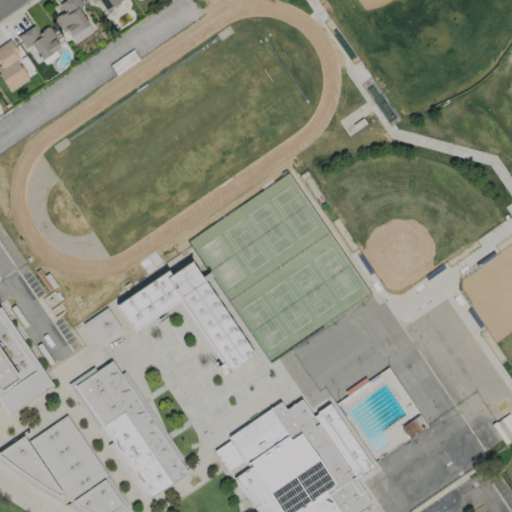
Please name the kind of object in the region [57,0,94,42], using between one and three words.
house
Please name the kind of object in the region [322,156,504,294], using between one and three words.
baseball field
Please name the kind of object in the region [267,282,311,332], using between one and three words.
tennis court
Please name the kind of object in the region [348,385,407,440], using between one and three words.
swimming pool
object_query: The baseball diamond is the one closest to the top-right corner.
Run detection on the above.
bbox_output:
[329,0,512,116]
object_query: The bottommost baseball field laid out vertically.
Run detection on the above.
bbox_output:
[461,245,512,367]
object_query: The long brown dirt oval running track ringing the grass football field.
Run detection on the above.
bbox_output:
[10,0,340,278]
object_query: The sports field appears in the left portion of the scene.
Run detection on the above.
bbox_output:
[28,19,322,258]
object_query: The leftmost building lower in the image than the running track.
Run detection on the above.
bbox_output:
[0,308,54,415]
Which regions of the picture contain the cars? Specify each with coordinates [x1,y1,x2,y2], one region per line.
[13,36,20,45]
[18,22,26,31]
[13,25,20,34]
[22,16,30,26]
